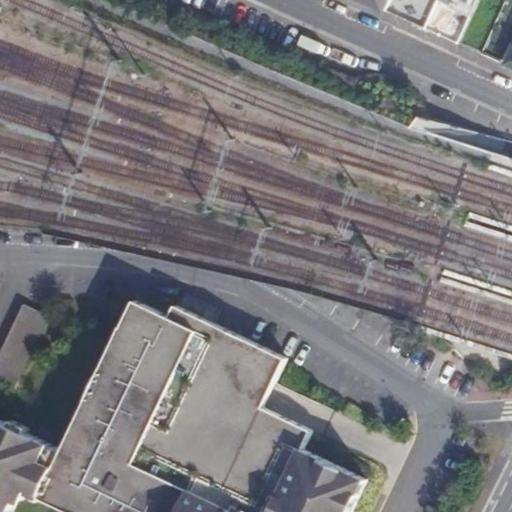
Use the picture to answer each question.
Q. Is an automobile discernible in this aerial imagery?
Yes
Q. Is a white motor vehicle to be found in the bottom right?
Yes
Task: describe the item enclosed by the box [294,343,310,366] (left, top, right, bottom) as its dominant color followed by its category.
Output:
white car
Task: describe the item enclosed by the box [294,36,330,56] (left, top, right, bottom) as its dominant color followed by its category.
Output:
white truck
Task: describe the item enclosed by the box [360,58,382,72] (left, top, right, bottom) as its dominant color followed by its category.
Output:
white vehicle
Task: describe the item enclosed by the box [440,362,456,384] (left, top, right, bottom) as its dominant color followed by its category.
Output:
white car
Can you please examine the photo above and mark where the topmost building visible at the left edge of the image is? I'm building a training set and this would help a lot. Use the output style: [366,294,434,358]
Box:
[0,305,48,385]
